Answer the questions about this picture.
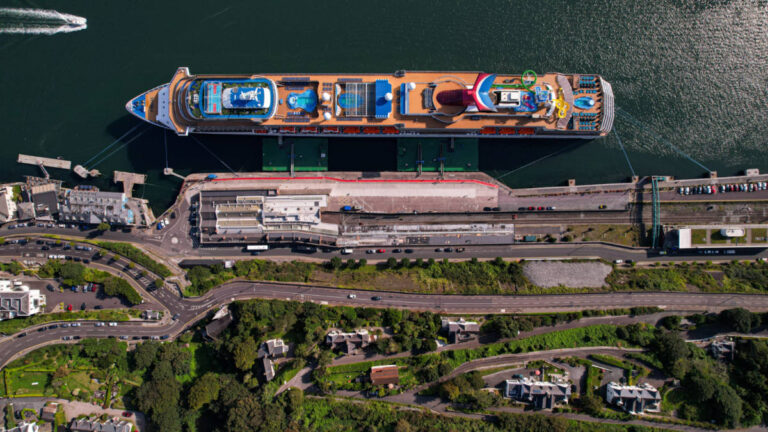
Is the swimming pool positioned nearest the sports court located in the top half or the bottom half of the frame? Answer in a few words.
top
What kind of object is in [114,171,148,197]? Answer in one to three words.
pier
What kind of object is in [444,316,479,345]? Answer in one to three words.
house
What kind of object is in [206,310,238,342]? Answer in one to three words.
house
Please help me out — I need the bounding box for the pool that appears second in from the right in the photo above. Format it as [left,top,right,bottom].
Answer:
[339,92,368,109]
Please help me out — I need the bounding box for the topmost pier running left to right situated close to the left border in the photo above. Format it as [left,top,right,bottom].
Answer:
[17,154,72,170]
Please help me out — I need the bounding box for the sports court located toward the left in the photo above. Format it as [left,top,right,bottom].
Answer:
[204,81,224,115]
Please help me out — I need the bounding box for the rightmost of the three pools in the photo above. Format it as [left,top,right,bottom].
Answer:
[574,97,594,109]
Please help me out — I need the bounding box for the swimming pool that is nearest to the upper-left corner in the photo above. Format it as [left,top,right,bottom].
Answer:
[288,90,317,112]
